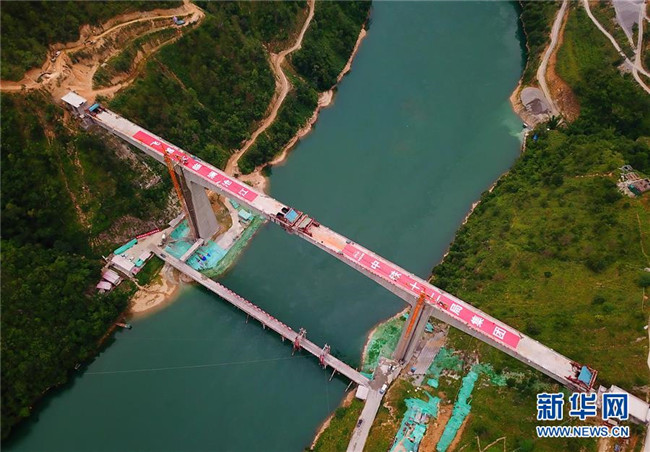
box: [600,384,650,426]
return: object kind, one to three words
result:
building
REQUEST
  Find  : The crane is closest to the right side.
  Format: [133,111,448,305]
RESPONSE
[395,280,426,368]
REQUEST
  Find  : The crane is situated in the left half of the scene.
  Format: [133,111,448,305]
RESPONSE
[157,141,192,242]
